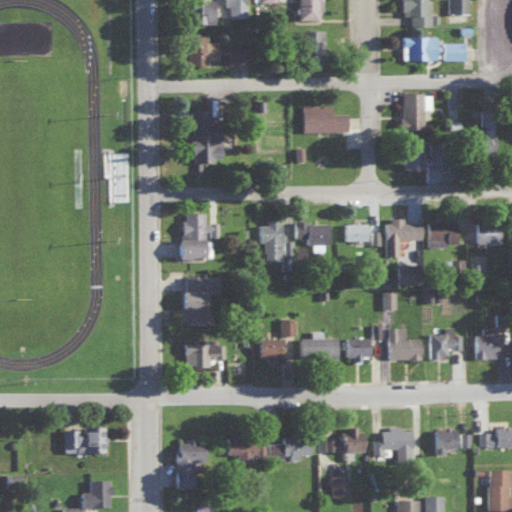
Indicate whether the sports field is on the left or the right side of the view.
left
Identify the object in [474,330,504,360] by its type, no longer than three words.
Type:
house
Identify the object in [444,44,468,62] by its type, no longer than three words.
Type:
building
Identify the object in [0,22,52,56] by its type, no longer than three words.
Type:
sports court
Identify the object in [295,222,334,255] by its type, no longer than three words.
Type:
house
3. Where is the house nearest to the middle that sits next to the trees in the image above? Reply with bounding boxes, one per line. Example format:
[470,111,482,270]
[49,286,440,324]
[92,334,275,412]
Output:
[258,222,288,262]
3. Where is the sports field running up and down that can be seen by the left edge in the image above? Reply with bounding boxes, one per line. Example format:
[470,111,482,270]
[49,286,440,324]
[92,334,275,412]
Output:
[0,4,90,358]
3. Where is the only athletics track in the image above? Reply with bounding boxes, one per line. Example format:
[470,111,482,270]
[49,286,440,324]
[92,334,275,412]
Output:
[0,0,104,370]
